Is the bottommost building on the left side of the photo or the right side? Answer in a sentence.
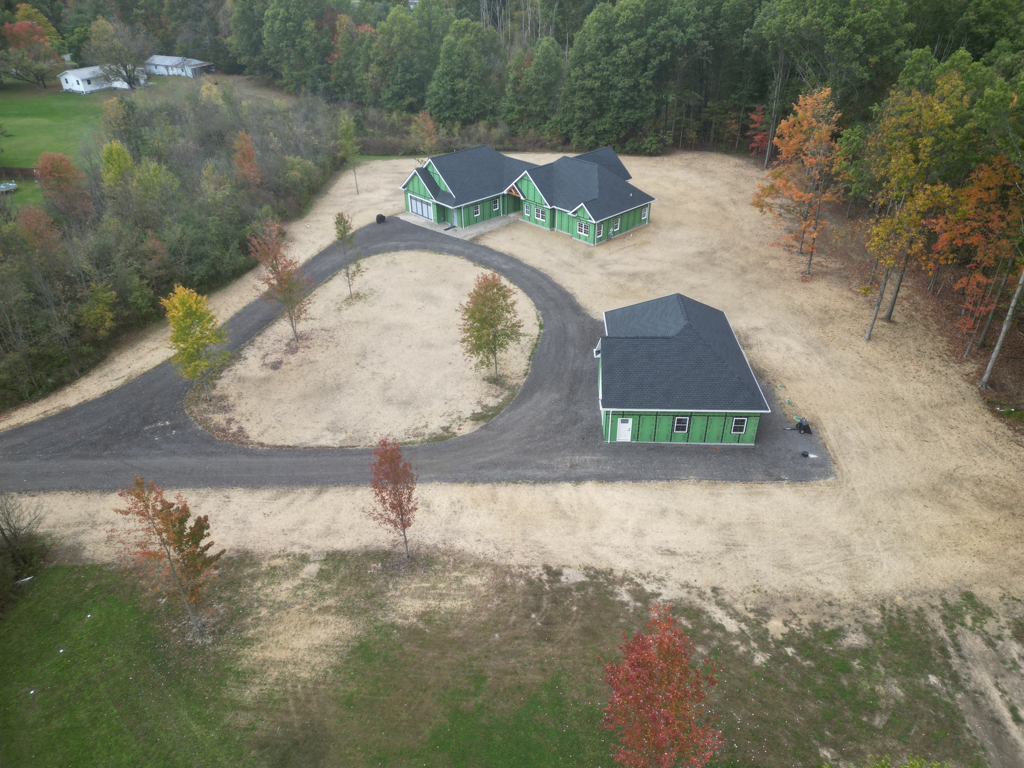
The bottommost building is on the right side of the image.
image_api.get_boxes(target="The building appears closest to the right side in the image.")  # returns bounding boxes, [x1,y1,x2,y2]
[596,293,771,445]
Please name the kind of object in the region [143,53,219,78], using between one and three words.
barn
